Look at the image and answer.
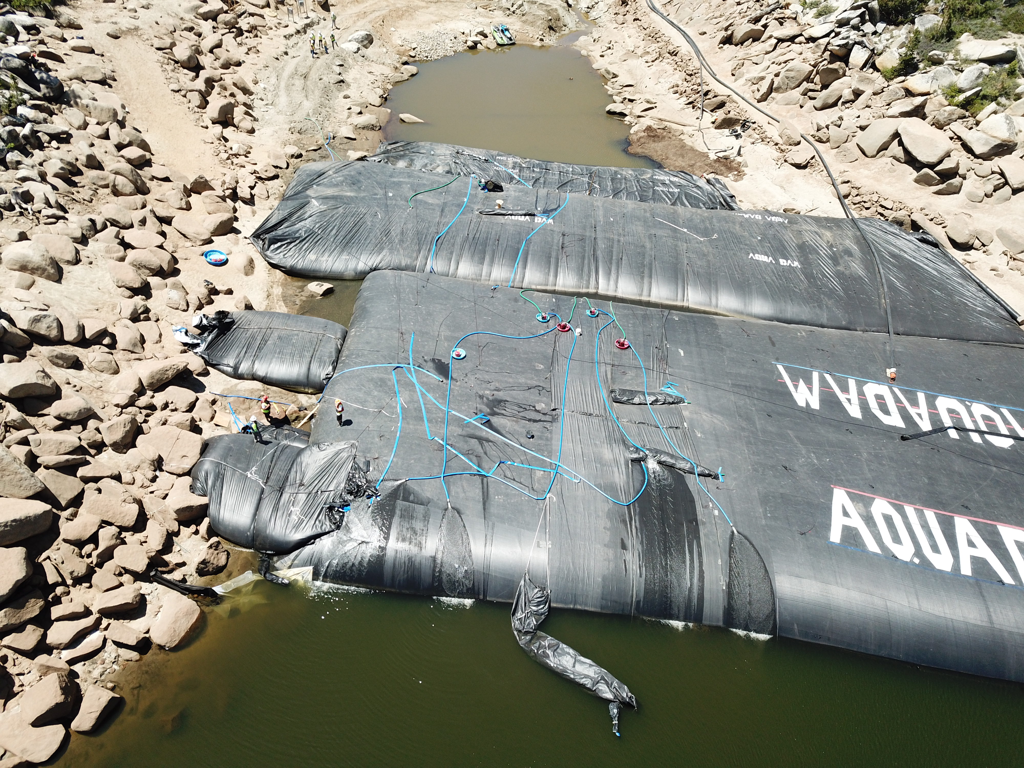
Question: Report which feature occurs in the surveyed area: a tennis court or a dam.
dam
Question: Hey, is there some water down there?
Yes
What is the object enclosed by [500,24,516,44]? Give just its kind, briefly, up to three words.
boat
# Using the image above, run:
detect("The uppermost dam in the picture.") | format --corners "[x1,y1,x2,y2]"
[368,136,739,216]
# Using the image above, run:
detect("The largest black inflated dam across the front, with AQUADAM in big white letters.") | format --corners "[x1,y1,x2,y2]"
[274,270,1024,684]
